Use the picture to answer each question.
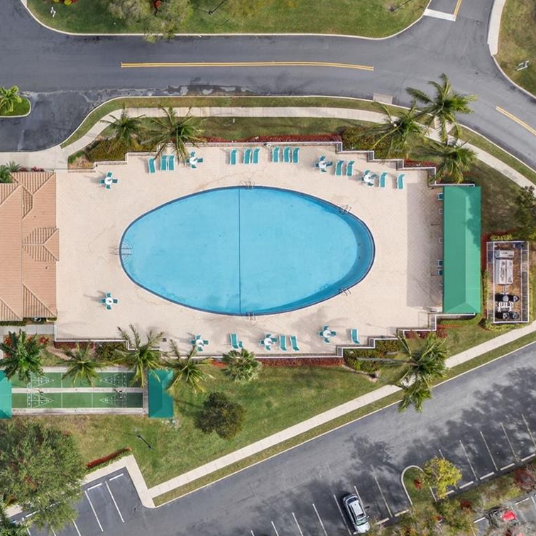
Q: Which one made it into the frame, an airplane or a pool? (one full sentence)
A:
The image shows a pool.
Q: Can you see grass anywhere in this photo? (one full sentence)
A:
Yes, there is grass in the image.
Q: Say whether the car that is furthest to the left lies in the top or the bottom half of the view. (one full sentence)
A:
Seen from above, the car that is furthest to the left lies in the bottom half of the view.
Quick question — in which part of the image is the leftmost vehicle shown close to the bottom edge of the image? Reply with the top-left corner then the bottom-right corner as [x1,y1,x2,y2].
[342,492,370,534]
